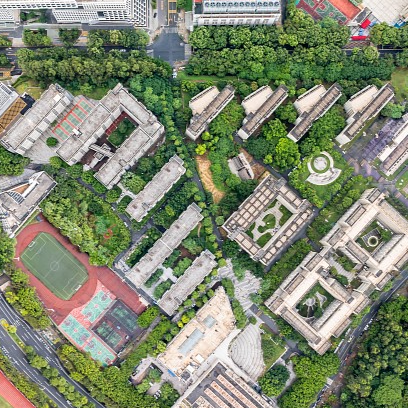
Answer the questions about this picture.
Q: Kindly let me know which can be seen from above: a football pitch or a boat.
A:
football pitch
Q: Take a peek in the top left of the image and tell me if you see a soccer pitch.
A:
No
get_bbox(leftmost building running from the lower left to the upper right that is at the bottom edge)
[134,286,235,388]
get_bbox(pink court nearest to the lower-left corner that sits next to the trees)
[62,288,118,367]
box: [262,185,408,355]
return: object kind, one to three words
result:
building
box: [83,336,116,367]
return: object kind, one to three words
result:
basketball court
